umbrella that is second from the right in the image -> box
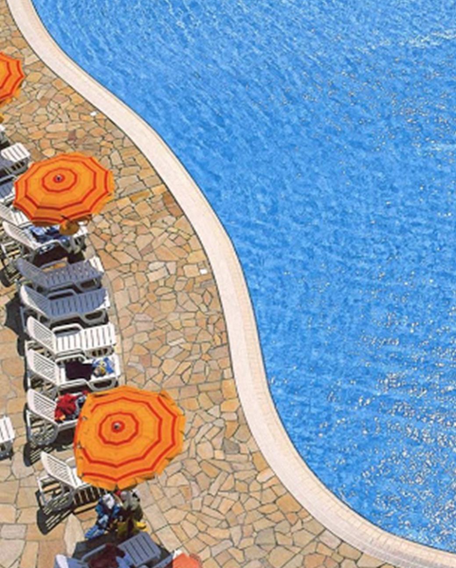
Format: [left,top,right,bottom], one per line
[16,148,115,262]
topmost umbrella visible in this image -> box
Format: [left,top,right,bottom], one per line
[0,53,30,114]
